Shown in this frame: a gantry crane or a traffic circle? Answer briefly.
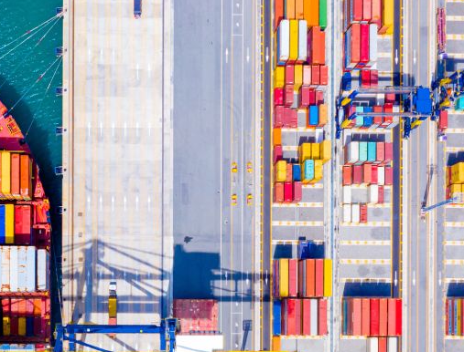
gantry crane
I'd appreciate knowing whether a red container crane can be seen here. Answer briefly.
No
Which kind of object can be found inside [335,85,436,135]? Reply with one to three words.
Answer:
container crane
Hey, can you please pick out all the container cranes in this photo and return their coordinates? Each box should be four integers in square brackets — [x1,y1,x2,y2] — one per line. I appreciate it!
[0,313,311,352]
[335,85,436,135]
[432,68,464,120]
